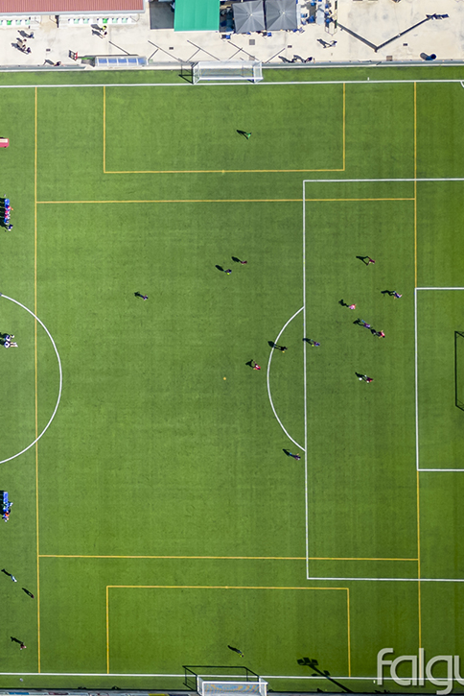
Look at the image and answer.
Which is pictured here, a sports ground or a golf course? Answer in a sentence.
The area seen from above is a sports ground.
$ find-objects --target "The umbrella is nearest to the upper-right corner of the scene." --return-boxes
[265,0,297,31]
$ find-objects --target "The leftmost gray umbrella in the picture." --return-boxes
[231,0,265,34]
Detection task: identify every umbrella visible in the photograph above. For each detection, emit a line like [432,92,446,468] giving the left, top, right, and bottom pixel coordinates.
[265,0,297,31]
[231,0,265,34]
